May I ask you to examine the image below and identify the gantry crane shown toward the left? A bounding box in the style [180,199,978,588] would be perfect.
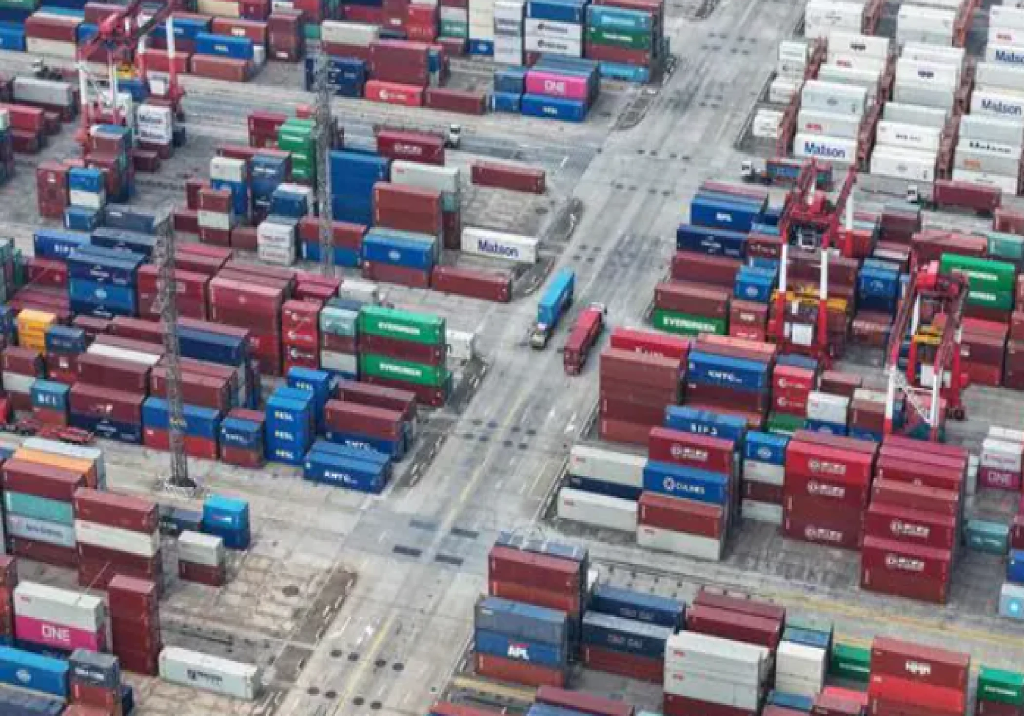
[64,0,184,149]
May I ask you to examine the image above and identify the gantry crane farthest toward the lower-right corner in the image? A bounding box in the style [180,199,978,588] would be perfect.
[880,272,982,449]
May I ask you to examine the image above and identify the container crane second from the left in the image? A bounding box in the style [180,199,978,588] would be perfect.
[772,153,871,374]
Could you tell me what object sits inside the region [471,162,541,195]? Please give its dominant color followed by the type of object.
red shipping container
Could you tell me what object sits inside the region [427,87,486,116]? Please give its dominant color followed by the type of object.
red shipping container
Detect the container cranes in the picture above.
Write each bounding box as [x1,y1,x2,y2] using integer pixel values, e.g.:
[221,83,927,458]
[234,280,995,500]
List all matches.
[880,272,982,449]
[64,0,184,149]
[772,153,871,374]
